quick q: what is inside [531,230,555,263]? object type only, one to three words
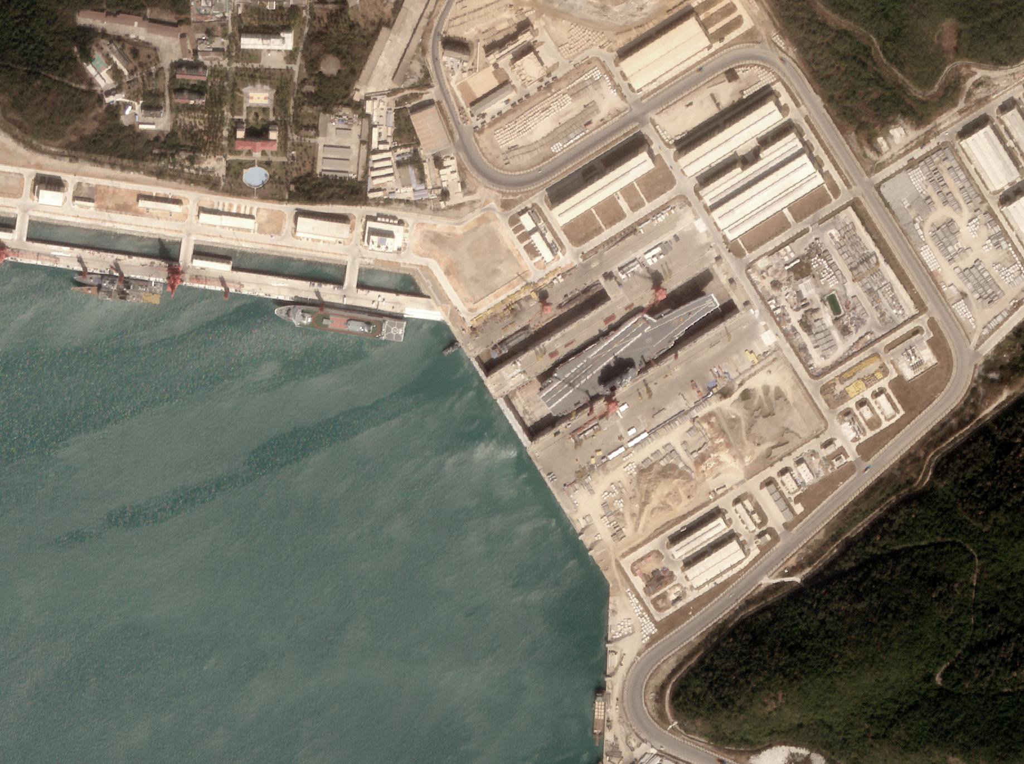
building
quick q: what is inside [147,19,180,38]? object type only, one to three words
shed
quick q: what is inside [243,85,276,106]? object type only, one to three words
sports court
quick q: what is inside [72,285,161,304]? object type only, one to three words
ship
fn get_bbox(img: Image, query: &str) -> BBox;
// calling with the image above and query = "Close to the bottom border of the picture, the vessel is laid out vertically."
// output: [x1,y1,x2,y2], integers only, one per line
[593,691,605,746]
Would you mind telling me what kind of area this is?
port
